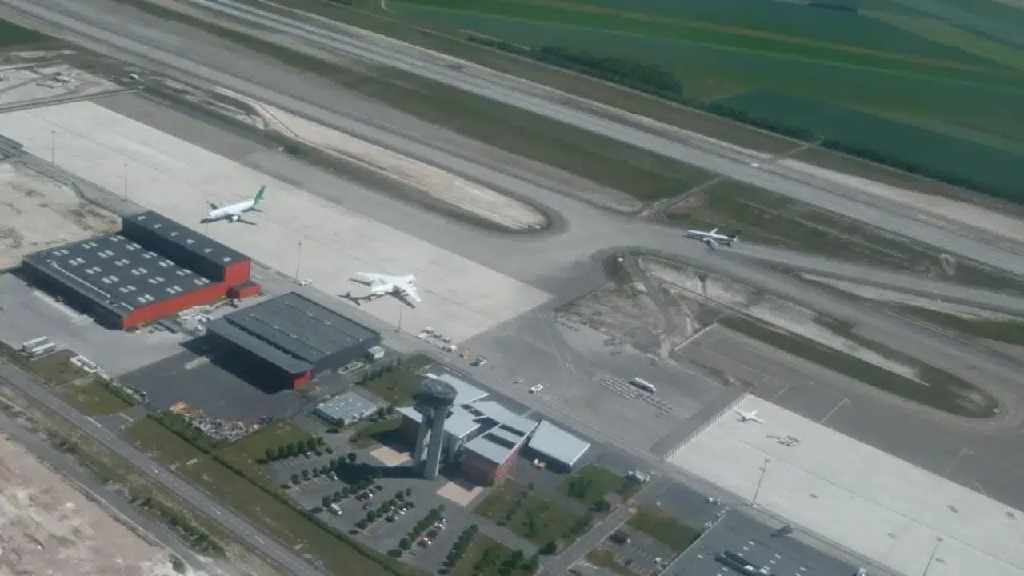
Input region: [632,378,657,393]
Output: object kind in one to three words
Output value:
vehicle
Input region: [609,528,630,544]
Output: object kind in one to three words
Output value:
vehicle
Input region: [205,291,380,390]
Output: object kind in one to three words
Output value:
hangar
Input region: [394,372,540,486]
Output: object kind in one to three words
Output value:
building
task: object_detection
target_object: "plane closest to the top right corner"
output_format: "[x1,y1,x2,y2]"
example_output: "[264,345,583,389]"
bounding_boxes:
[684,228,740,246]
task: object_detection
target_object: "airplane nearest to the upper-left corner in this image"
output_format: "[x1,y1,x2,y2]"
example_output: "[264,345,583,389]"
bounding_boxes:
[206,186,265,221]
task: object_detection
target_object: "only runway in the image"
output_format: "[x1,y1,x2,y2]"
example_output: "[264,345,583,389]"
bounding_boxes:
[198,0,1024,274]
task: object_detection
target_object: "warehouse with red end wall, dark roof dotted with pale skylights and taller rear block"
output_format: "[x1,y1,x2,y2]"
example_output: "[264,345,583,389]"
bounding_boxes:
[24,209,250,331]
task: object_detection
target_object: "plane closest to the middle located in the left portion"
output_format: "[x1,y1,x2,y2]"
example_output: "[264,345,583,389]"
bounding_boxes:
[354,272,418,302]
